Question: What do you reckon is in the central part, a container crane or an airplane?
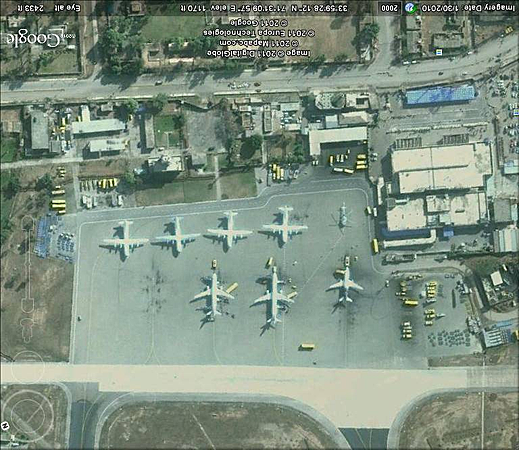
airplane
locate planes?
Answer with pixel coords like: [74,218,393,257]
[328,268,366,304]
[207,210,253,247]
[195,273,236,316]
[252,267,299,323]
[156,215,201,251]
[263,206,309,242]
[103,219,149,256]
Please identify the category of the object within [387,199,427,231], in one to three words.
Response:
building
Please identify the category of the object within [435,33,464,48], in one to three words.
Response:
house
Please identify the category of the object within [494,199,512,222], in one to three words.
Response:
shed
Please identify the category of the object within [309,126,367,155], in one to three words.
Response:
hangar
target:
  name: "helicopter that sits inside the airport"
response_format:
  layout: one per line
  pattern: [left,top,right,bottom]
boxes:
[332,205,356,233]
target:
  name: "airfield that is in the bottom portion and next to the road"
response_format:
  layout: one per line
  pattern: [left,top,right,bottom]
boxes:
[0,179,519,450]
